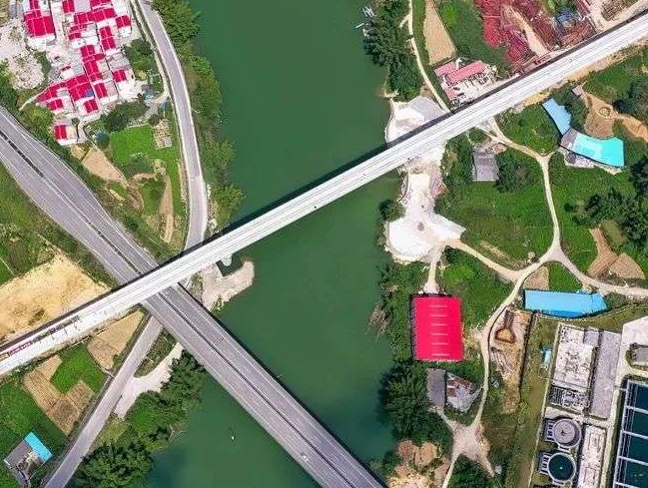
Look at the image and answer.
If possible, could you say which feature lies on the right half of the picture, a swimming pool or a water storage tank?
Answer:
water storage tank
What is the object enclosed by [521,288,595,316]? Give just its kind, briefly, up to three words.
shed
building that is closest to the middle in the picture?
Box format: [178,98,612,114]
[409,293,463,360]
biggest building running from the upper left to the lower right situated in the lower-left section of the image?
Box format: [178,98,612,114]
[24,429,53,461]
